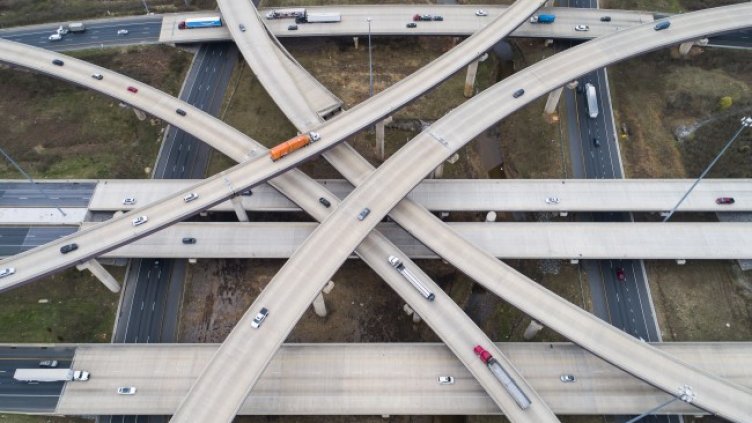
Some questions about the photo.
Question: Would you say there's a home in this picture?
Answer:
No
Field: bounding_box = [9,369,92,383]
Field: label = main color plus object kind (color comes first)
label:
white vehicle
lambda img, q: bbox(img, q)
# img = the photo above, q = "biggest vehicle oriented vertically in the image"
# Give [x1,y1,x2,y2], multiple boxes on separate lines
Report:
[585,82,601,123]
